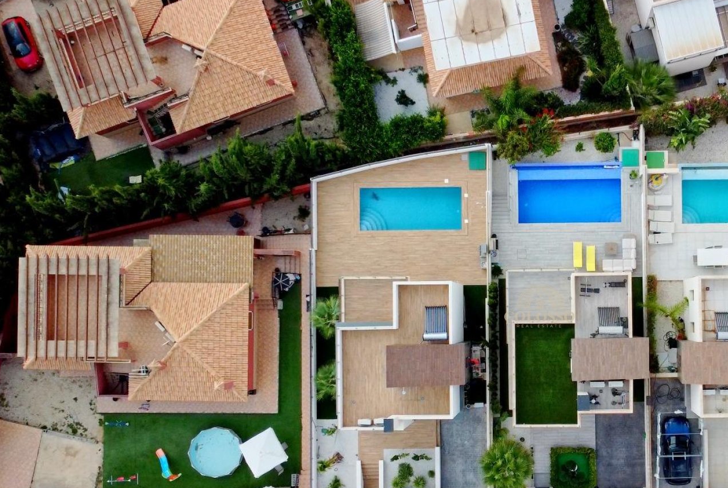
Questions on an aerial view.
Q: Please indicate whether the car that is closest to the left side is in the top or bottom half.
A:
top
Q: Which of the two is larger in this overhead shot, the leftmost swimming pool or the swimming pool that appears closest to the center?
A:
the swimming pool that appears closest to the center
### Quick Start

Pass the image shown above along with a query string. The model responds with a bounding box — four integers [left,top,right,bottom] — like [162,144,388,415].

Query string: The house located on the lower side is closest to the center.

[335,276,471,446]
